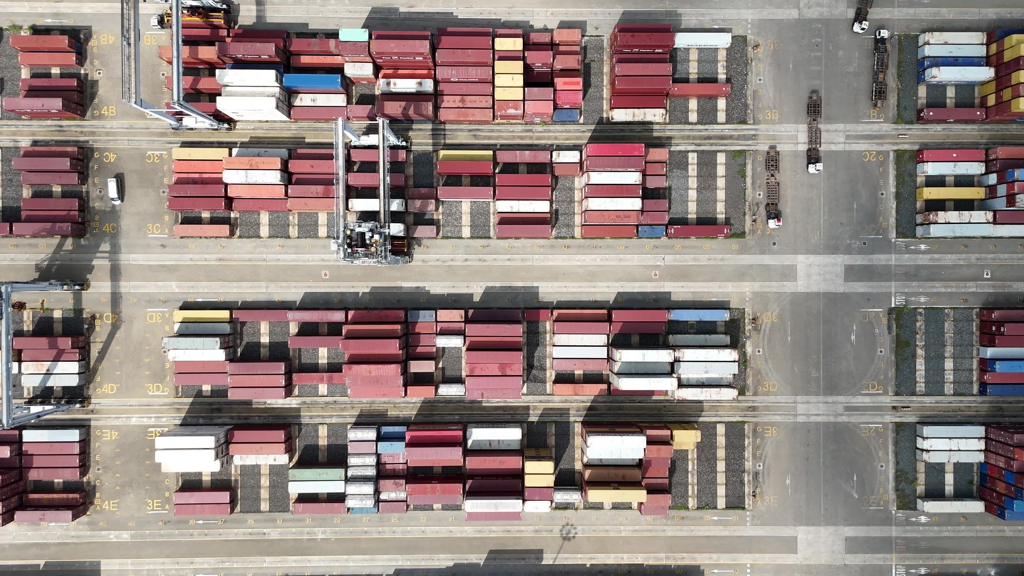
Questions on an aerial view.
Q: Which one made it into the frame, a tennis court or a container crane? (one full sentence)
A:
There is a container crane in the scene.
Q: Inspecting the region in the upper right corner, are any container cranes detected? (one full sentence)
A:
No, there is no container crane in the upper right corner.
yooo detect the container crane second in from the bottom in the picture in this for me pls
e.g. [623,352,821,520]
[326,118,419,264]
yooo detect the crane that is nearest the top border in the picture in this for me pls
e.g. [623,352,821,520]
[118,0,239,131]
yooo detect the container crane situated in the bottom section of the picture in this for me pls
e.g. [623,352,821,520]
[0,282,91,427]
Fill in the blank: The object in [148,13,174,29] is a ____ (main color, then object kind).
white vehicle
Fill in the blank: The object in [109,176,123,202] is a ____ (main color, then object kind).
white vehicle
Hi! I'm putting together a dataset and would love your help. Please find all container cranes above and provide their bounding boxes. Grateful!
[0,282,91,427]
[326,118,419,264]
[118,0,239,131]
